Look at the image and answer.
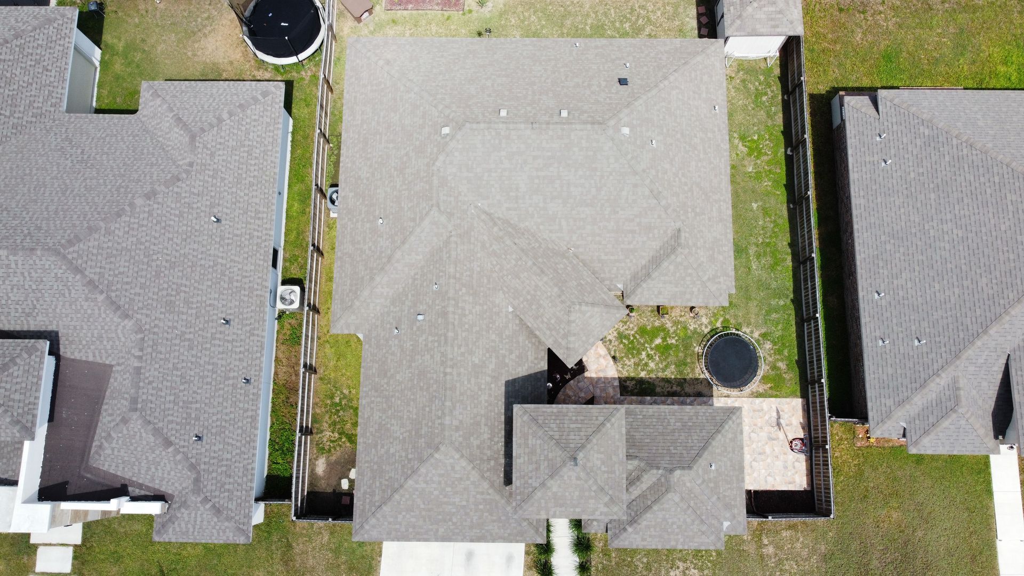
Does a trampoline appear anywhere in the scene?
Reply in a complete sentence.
Yes, the photo shows a trampoline.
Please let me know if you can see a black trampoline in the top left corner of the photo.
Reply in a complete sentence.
Yes, a black trampoline can be seen in the top left corner of the photo.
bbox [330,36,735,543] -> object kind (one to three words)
house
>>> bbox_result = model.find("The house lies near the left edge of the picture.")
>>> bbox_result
[0,7,295,543]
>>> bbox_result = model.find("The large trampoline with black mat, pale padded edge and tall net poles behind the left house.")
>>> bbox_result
[232,0,324,70]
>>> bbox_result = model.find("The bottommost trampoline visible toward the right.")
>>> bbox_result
[702,331,764,392]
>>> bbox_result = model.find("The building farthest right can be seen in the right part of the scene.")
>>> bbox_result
[813,87,1024,458]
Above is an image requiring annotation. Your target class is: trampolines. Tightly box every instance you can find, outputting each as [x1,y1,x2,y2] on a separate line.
[702,331,764,392]
[232,0,324,70]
